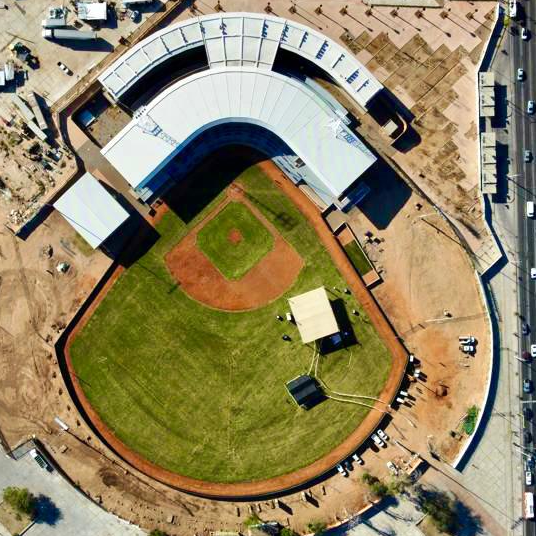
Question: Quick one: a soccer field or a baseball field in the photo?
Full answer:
It is a baseball field that can be seen here.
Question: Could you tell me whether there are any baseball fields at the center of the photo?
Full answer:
Yes, a baseball field shows up at the center of the photo.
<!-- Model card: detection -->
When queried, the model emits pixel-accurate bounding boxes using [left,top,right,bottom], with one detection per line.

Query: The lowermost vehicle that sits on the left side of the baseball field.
[31,451,49,471]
